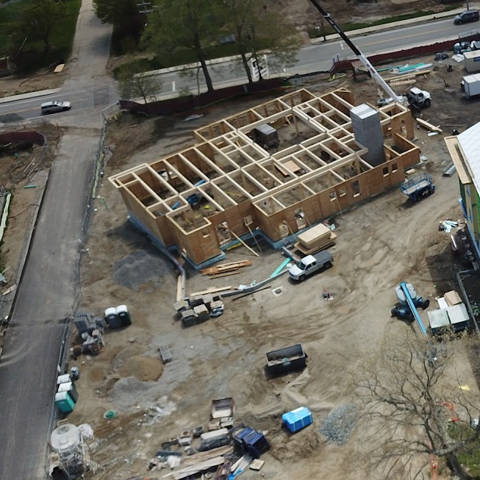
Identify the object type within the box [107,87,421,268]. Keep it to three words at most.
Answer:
building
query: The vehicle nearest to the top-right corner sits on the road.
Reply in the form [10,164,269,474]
[452,9,480,24]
